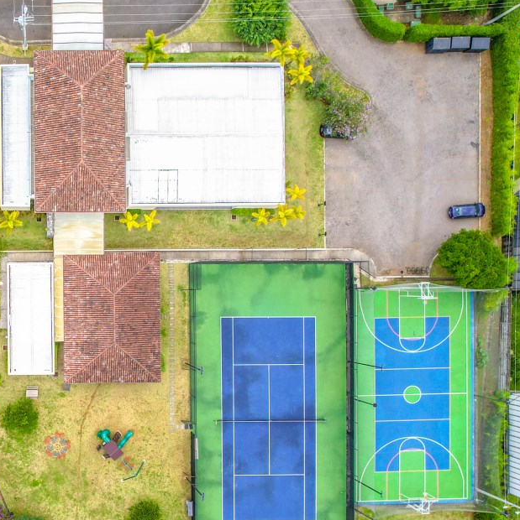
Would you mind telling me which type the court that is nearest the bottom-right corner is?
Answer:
basketball court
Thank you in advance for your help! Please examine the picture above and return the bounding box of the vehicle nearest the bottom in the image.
[450,200,489,220]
